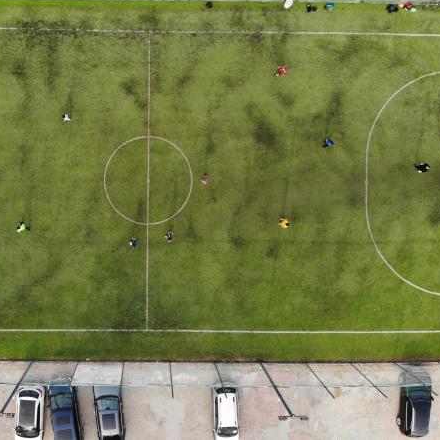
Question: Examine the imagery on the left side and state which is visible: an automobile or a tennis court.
automobile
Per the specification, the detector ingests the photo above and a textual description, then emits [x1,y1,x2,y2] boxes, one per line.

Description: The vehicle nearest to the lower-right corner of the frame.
[396,366,437,440]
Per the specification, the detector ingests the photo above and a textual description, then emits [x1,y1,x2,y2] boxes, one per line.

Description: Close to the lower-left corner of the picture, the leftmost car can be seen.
[8,382,44,440]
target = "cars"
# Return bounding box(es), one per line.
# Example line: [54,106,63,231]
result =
[8,382,44,440]
[45,373,82,440]
[212,380,244,440]
[396,366,437,440]
[91,384,126,440]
